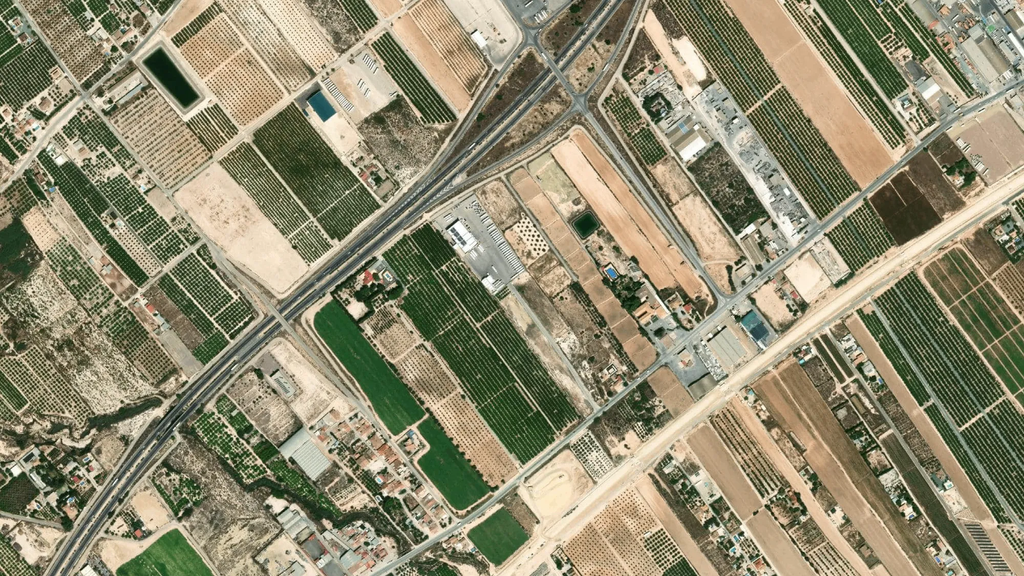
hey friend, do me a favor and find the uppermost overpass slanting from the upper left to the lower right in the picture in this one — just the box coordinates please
[530,39,582,104]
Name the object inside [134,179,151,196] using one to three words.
swimming pool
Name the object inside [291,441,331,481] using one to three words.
greenhouse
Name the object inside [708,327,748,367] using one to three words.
building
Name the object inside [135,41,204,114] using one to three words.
pond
